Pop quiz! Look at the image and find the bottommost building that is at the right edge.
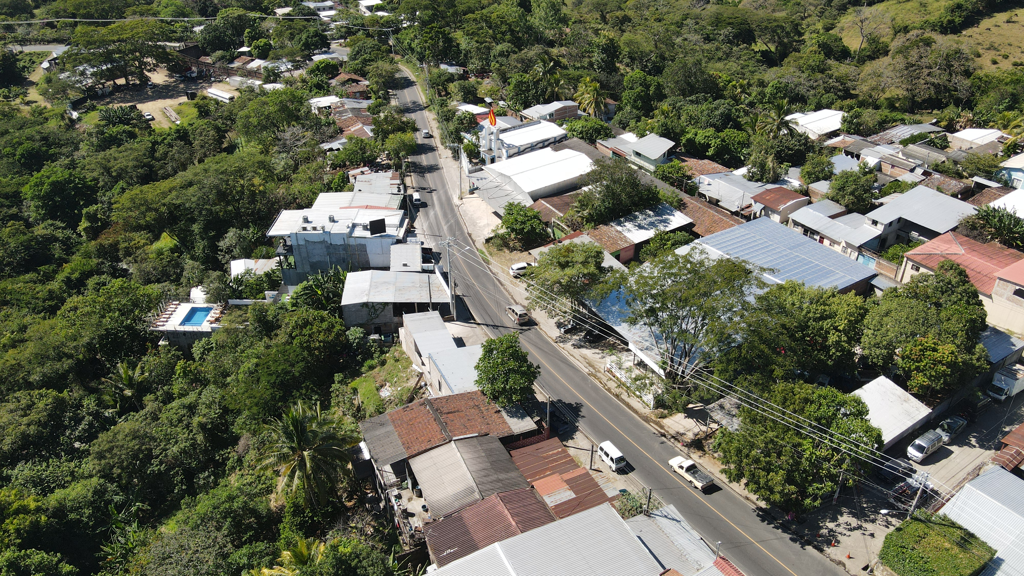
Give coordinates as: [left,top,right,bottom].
[937,466,1024,576]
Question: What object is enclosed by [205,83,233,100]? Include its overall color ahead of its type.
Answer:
white vehicle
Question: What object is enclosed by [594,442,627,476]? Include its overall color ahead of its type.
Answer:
white vehicle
